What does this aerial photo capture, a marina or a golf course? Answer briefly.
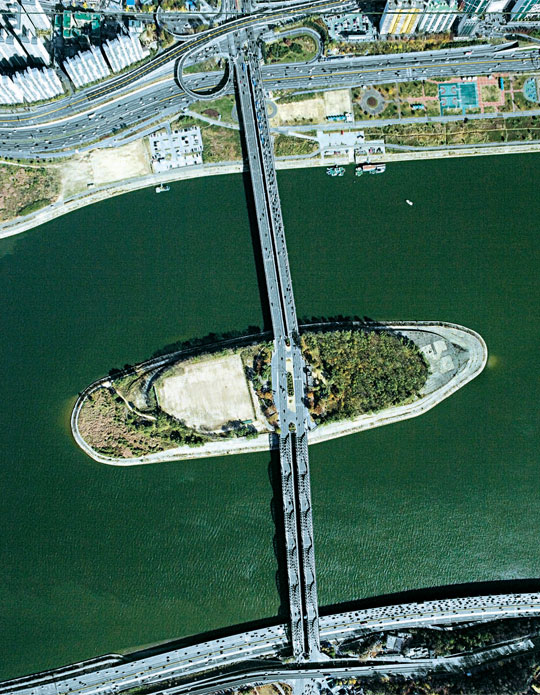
marina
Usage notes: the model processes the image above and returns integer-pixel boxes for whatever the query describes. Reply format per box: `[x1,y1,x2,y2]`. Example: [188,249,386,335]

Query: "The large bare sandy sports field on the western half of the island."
[155,353,256,432]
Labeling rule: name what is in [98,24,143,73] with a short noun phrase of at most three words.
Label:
building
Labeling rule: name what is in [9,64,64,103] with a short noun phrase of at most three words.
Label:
building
